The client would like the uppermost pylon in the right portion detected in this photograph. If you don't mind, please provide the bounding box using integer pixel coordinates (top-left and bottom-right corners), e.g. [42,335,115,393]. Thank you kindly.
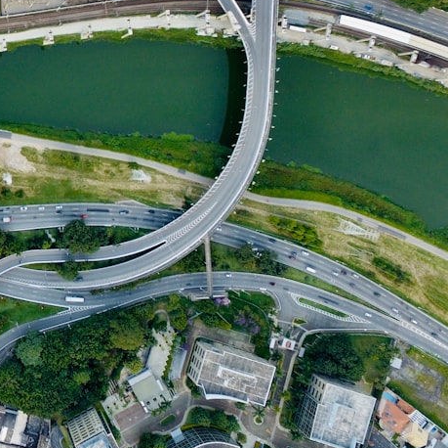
[333,214,387,250]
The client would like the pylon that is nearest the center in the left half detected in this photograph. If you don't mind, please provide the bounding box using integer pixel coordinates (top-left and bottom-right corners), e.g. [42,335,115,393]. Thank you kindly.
[129,166,148,185]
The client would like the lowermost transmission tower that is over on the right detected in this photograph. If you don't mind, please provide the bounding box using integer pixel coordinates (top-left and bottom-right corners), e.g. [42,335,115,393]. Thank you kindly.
[341,240,388,272]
